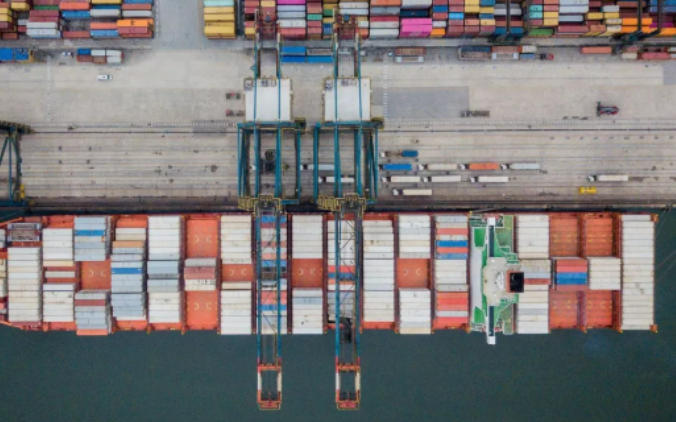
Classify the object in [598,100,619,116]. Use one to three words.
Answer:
work vehicle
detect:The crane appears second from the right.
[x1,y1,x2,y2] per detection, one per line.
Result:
[487,0,528,44]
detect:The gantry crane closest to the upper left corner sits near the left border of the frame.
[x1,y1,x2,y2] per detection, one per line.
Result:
[0,116,44,206]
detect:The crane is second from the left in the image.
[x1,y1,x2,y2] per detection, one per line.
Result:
[235,10,312,409]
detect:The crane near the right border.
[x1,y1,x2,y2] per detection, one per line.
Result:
[609,0,661,44]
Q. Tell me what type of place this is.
port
